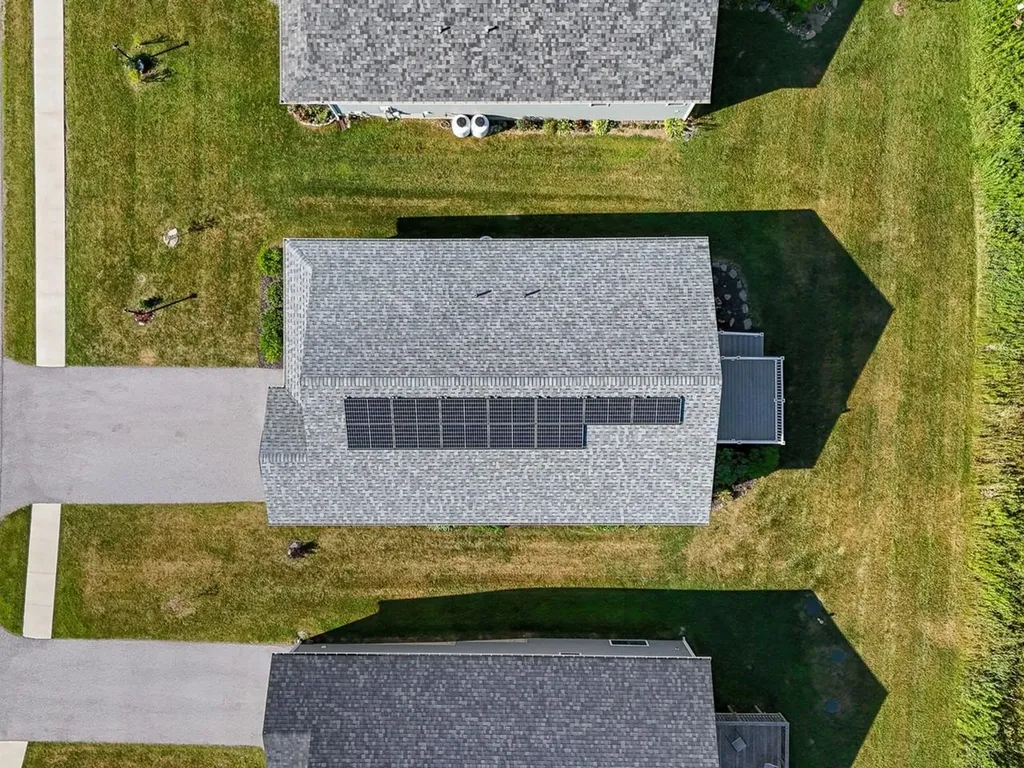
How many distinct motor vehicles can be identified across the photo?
none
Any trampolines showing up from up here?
No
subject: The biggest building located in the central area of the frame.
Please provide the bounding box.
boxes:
[260,234,722,526]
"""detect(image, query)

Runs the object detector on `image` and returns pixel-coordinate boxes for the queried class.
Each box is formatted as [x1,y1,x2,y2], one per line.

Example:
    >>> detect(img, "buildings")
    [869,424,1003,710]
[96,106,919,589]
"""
[279,0,719,128]
[260,234,722,526]
[262,633,718,768]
